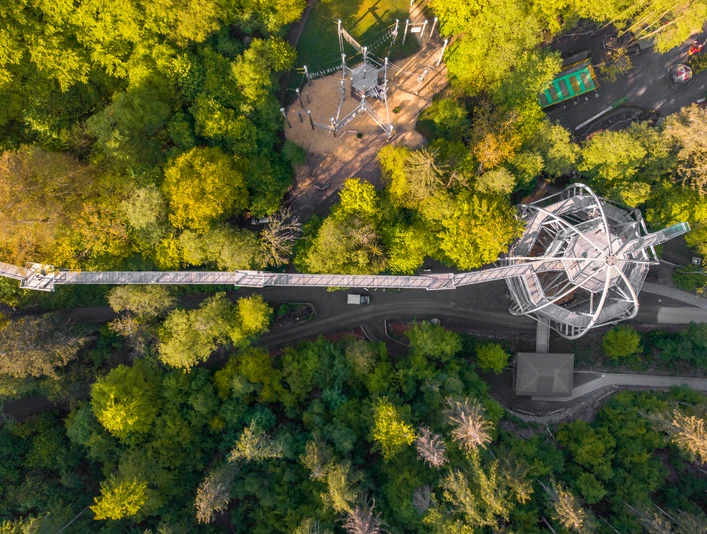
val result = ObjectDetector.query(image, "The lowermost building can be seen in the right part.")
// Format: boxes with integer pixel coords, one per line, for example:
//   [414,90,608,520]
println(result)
[508,352,573,396]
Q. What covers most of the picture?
trees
